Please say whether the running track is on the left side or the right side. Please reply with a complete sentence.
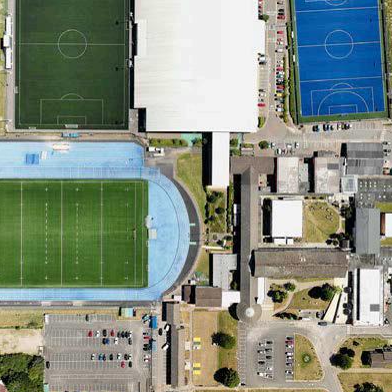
The running track is on the left side of the image.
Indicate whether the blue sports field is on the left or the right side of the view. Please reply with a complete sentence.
The blue sports field is on the right side of the image.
